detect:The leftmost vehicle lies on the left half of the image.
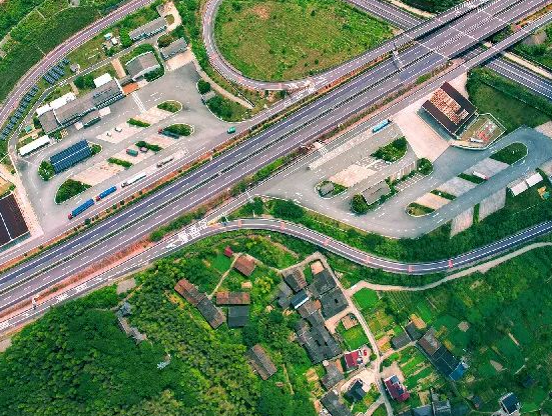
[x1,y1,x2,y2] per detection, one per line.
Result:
[65,199,95,218]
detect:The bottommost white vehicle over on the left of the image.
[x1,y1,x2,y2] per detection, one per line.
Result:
[120,171,147,187]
